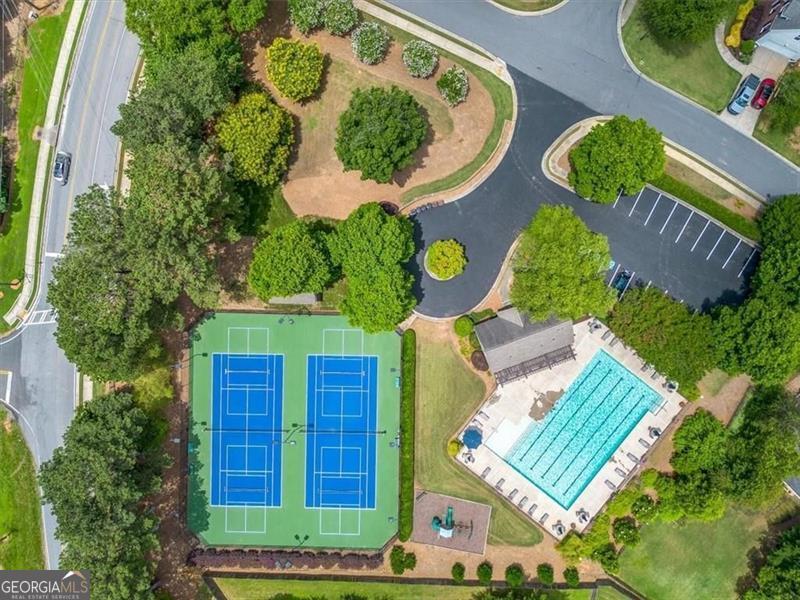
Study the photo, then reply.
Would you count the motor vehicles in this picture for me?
4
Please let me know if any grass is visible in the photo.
Yes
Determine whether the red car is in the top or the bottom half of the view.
top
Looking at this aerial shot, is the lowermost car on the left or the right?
right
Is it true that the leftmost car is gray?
Yes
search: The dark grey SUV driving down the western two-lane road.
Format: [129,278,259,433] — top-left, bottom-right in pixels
[51,151,71,184]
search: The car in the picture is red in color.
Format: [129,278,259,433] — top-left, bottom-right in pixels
[754,77,777,110]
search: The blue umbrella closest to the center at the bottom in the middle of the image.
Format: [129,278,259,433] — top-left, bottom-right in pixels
[462,427,482,447]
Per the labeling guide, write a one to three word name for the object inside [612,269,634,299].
car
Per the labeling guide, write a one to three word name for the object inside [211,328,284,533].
tennis court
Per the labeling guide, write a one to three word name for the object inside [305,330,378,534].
tennis court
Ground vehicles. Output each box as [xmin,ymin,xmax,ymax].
[612,269,634,299]
[730,73,762,113]
[754,77,777,110]
[51,151,71,184]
